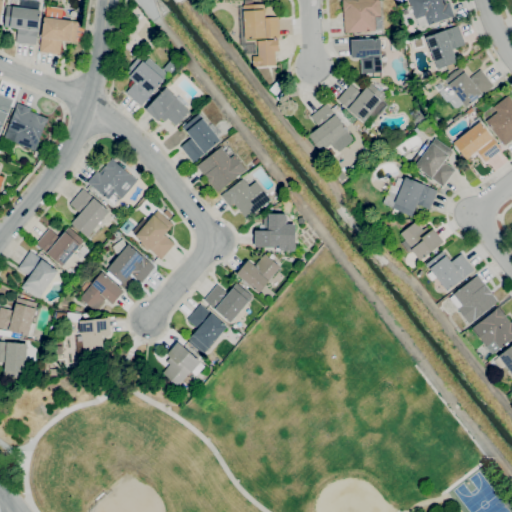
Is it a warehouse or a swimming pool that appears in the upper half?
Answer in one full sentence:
The one visible in the upper half is a swimming pool.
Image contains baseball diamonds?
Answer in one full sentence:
Yes, I can see a baseball diamond in this picture.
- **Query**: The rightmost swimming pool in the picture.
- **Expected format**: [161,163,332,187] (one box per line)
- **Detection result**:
[447,118,470,136]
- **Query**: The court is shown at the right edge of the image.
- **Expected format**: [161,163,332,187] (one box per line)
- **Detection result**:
[450,470,510,512]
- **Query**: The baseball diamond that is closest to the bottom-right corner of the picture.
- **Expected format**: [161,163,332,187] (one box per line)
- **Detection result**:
[182,250,483,512]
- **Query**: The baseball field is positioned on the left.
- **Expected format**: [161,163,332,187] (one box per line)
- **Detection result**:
[29,395,262,512]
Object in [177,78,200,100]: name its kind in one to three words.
swimming pool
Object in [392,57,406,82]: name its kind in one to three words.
swimming pool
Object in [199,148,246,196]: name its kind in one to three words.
house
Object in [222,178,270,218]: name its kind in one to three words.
house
